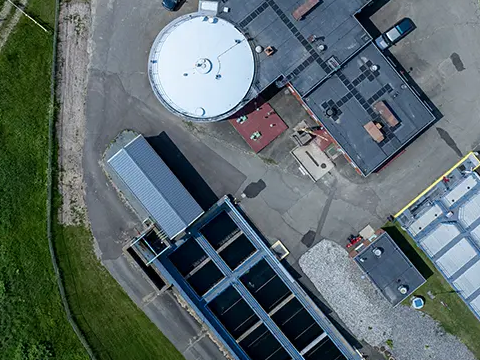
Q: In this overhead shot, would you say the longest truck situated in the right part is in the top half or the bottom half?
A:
top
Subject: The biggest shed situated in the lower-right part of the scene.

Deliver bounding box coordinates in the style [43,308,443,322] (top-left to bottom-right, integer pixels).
[351,228,427,306]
